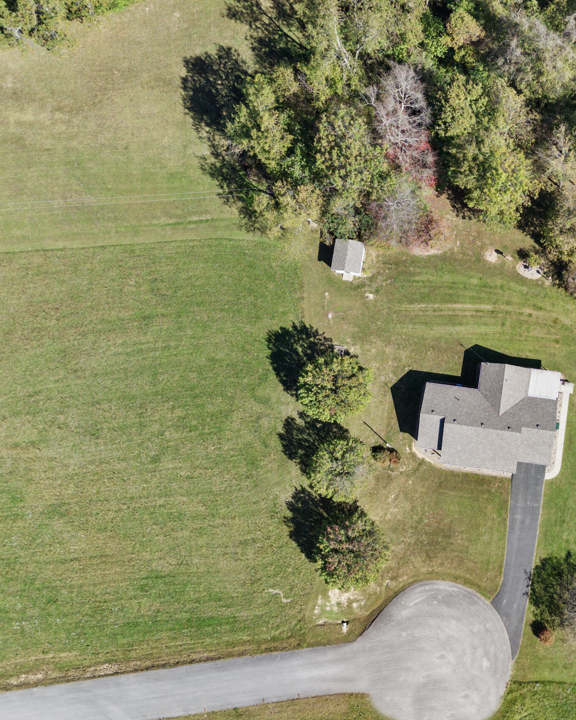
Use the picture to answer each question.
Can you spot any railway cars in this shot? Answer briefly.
No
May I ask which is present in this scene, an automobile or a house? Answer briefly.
house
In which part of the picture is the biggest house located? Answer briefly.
right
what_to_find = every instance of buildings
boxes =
[416,362,561,473]
[331,239,366,282]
